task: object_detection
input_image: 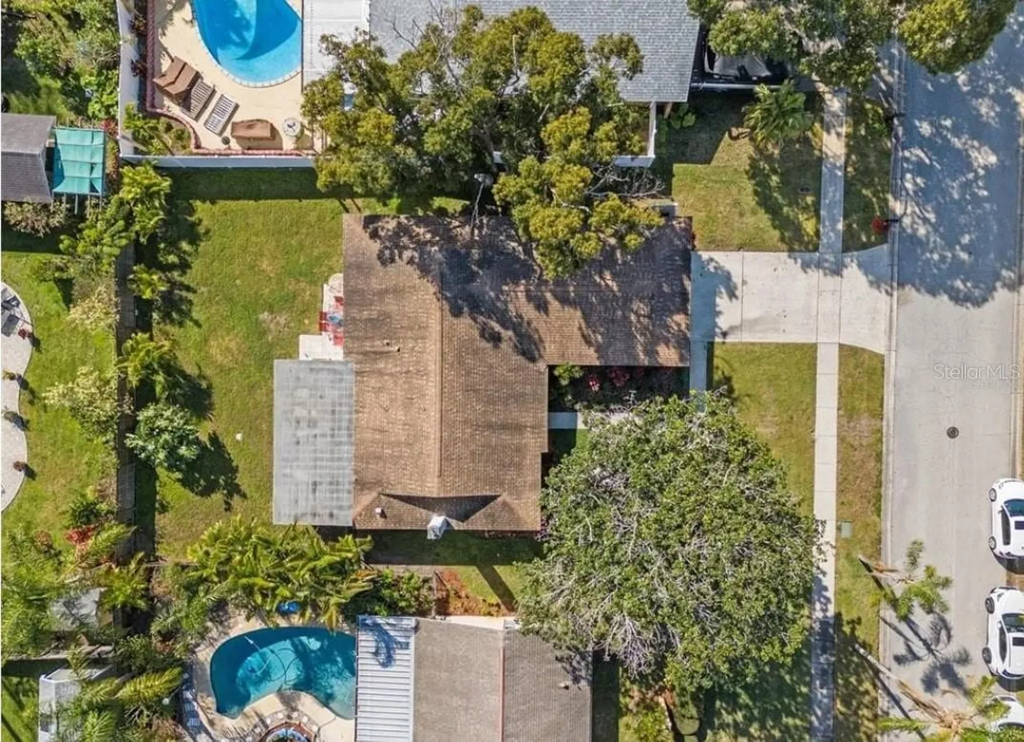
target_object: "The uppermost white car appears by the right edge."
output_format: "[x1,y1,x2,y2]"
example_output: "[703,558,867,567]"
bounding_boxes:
[990,476,1024,560]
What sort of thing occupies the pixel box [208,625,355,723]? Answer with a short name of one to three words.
swimming pool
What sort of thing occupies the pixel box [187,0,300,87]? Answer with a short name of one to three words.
swimming pool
